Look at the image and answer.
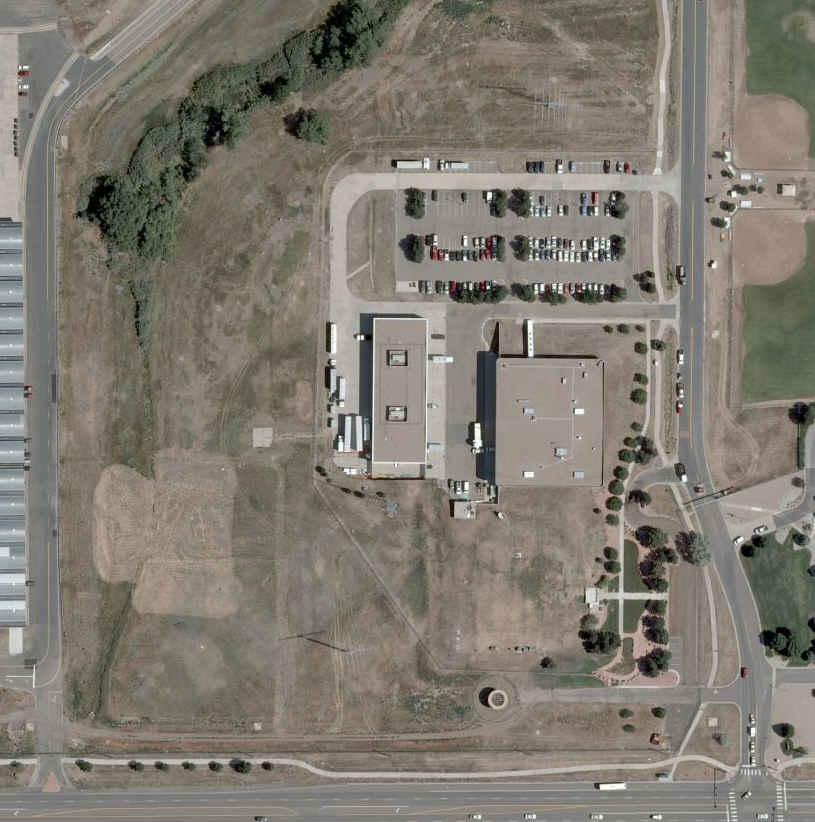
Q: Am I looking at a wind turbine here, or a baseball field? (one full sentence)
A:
There is a baseball field in the scene.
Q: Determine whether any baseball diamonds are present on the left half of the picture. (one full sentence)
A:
No, I see no baseball diamond on the left half of the picture.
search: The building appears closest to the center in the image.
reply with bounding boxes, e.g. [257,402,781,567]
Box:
[373,318,428,478]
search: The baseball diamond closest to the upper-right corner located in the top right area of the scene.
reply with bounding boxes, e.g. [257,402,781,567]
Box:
[735,0,815,169]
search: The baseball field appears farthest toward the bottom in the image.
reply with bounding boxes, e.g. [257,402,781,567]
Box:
[736,210,815,403]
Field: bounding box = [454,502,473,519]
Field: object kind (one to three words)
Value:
shed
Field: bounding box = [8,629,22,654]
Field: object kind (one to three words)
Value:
shed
